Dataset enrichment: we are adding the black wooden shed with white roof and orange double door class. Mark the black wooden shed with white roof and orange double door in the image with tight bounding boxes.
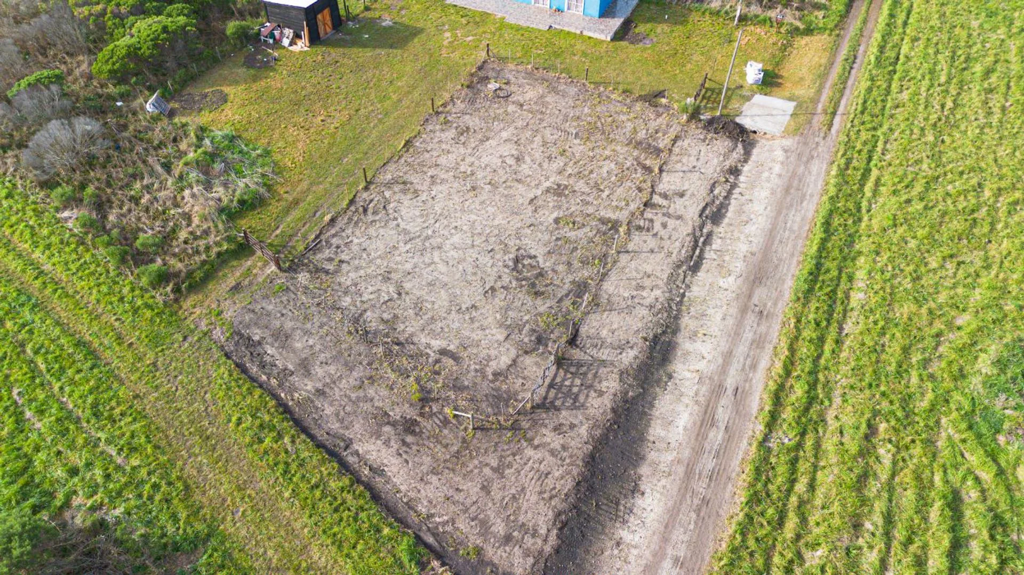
[270,0,341,43]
